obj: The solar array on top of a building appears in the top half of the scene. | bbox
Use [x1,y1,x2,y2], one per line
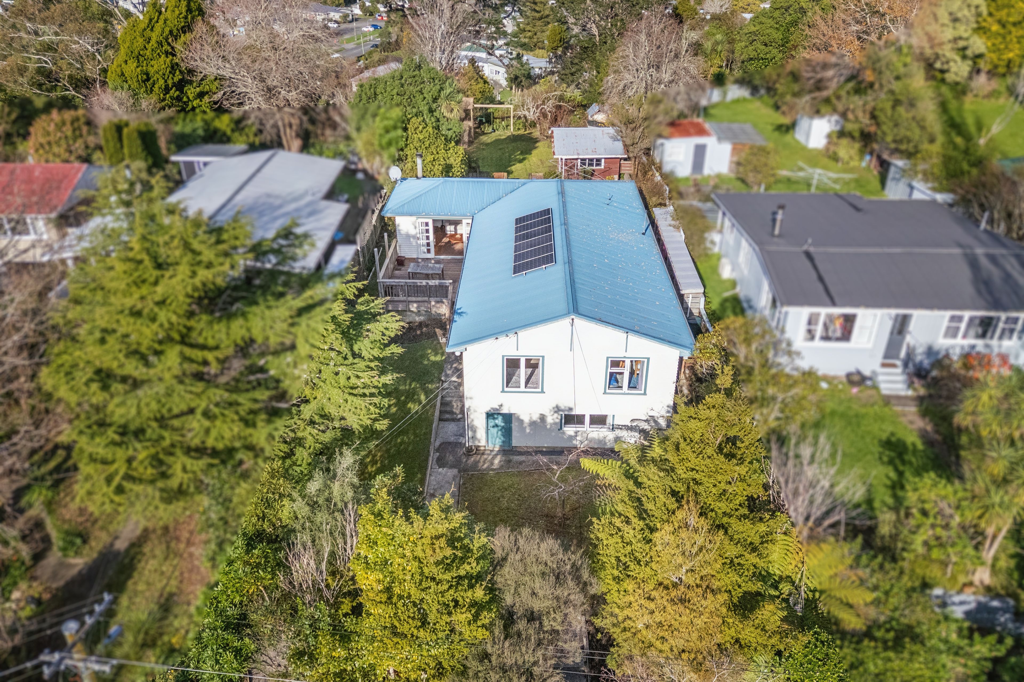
[511,207,552,277]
